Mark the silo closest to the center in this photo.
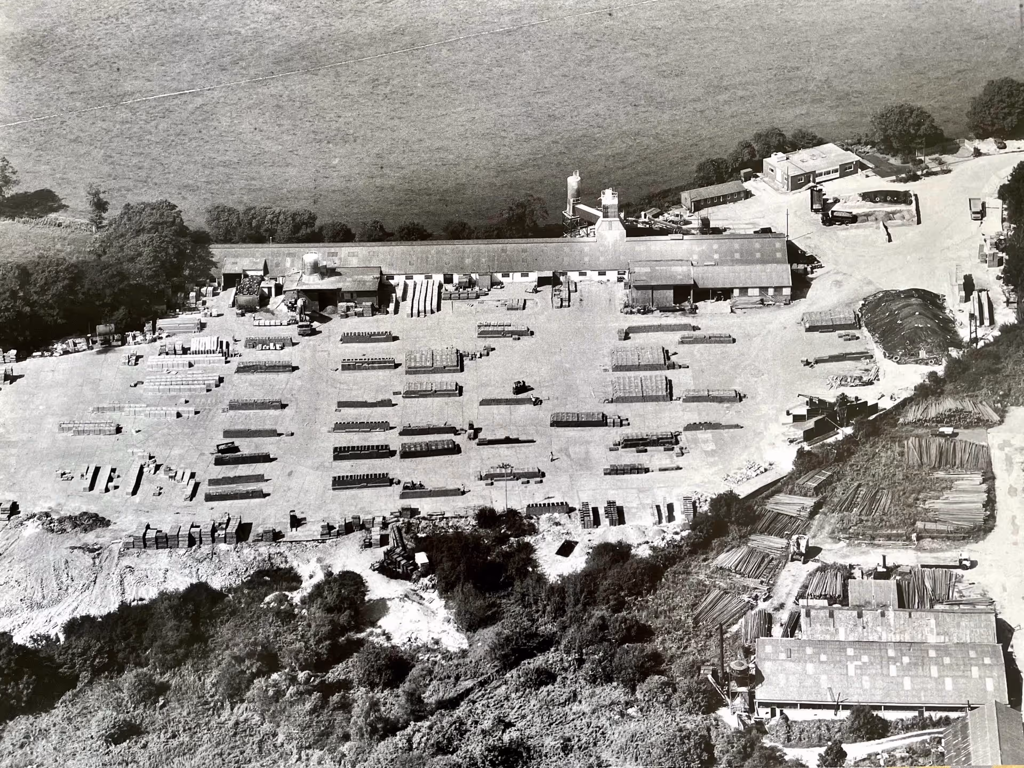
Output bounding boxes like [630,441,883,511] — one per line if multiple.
[564,167,586,237]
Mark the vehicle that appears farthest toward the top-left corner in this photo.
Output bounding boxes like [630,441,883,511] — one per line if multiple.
[295,295,313,333]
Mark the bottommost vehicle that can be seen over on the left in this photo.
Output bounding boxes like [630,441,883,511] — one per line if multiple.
[286,508,301,536]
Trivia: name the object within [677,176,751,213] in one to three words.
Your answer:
shed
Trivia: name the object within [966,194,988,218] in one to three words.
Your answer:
truck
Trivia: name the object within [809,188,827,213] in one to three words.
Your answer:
vehicle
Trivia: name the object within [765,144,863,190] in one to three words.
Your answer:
building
